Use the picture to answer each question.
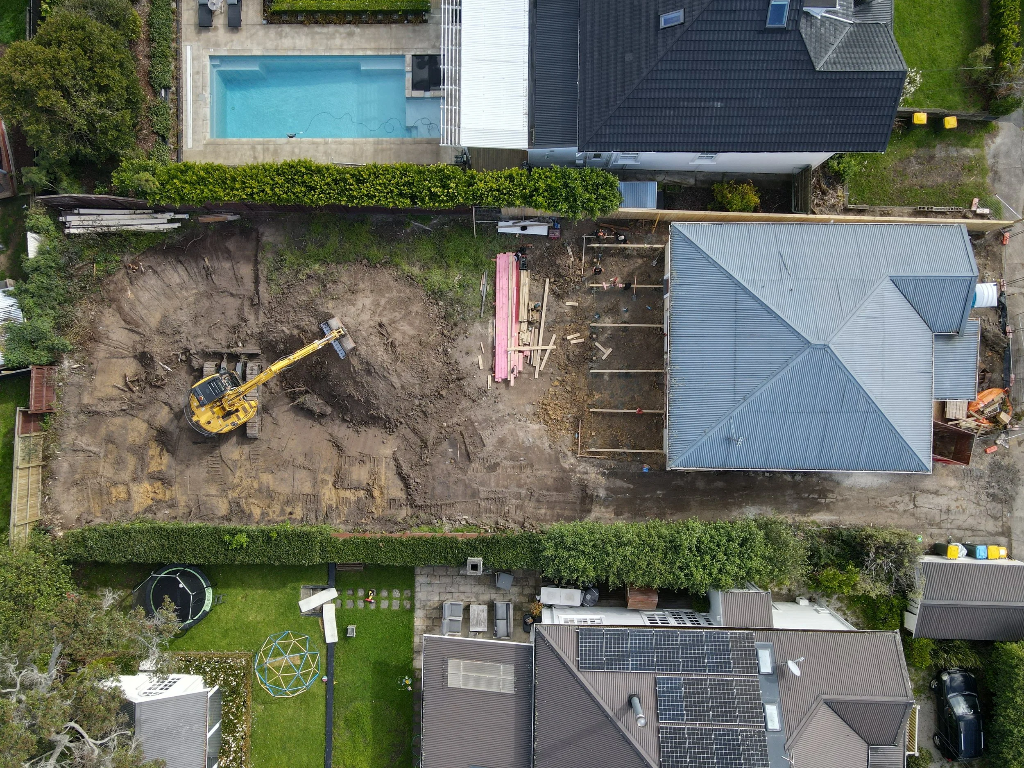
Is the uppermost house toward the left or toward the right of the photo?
right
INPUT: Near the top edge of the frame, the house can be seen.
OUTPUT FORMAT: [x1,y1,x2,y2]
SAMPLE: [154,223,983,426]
[528,0,910,175]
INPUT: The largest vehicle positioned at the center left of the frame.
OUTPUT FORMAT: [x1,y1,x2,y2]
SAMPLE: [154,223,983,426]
[184,313,363,439]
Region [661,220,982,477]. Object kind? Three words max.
house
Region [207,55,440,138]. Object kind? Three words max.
swimming pool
